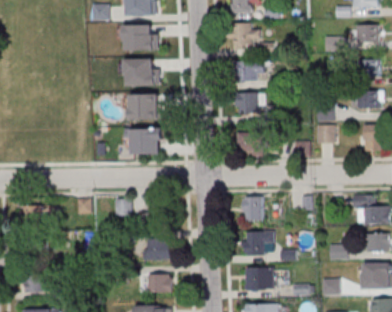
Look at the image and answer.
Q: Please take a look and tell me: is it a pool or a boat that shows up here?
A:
pool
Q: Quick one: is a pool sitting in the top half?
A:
Yes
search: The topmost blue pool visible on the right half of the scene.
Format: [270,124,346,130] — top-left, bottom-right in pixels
[298,233,314,250]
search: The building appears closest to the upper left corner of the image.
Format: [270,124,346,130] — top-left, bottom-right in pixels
[90,2,110,22]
